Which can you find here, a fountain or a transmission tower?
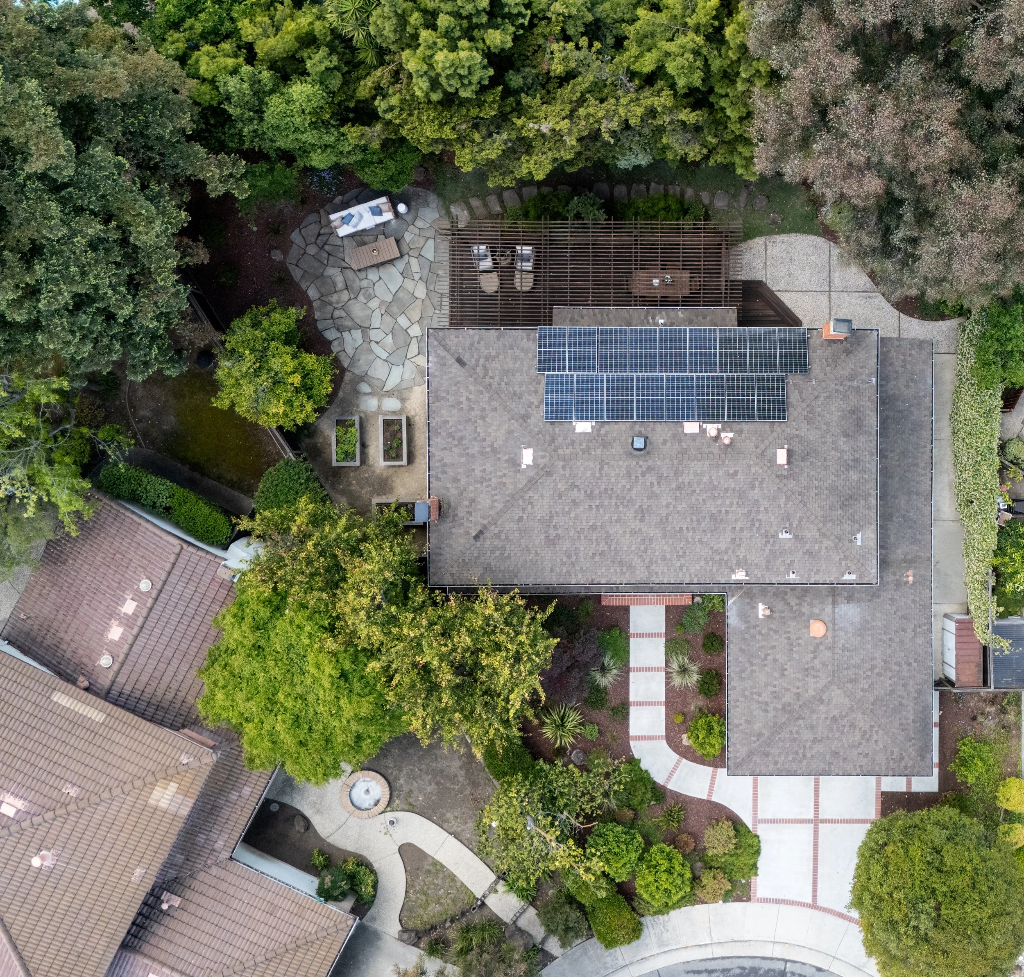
fountain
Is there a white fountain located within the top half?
No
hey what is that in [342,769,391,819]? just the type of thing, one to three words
fountain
